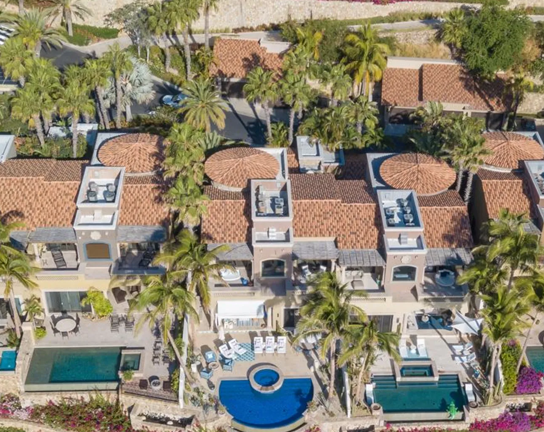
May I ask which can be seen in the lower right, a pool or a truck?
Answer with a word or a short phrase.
pool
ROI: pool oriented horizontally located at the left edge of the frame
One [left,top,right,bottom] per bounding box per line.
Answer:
[24,344,126,393]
